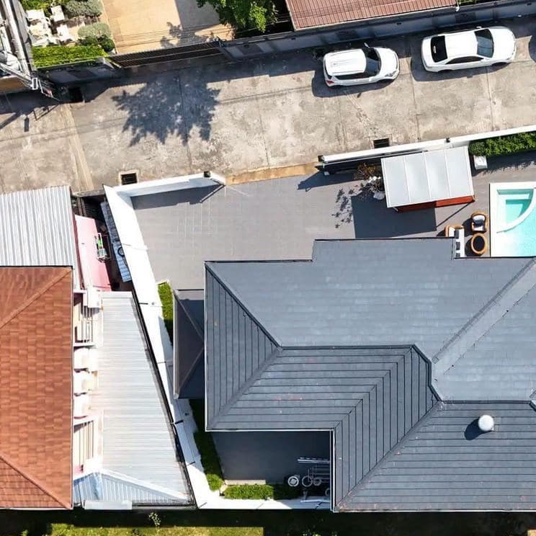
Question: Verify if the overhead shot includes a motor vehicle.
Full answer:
Yes, a motor vehicle appears in the view.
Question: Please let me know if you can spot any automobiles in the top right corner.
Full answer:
Yes, an automobile appears in the top right corner.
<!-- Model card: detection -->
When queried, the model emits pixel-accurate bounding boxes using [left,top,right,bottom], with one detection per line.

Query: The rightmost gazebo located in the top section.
[382,145,475,213]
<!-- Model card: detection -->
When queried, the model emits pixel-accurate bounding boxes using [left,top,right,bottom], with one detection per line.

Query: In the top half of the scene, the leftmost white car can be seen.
[321,43,402,89]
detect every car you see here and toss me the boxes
[421,25,515,75]
[321,43,402,89]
